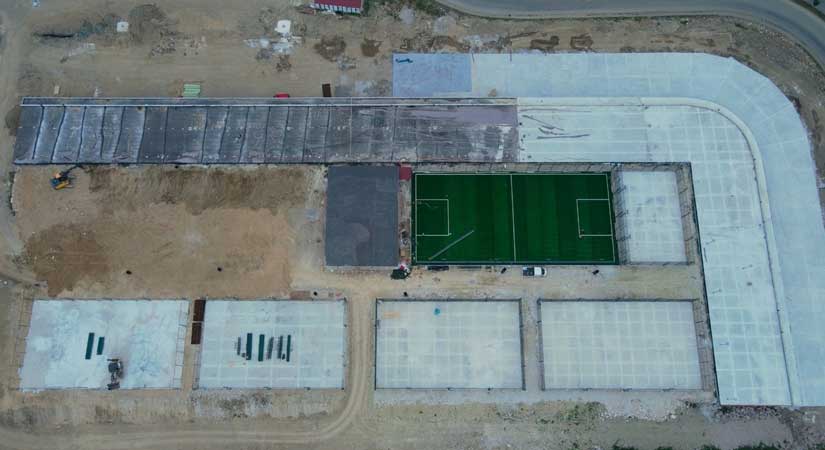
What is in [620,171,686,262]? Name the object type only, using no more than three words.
sports court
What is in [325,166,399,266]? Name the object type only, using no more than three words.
sports court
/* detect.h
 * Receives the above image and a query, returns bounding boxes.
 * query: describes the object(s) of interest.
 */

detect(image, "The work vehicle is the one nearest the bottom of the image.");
[103,357,122,390]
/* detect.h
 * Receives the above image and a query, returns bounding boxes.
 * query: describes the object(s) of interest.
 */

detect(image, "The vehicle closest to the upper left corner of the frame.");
[46,164,89,190]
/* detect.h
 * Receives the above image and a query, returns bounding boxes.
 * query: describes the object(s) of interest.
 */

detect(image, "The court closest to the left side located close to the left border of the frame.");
[17,300,188,388]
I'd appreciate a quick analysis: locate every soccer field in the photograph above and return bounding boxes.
[410,171,618,265]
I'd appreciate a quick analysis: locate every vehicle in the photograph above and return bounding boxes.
[524,266,547,276]
[272,90,289,97]
[46,164,89,190]
[103,357,122,390]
